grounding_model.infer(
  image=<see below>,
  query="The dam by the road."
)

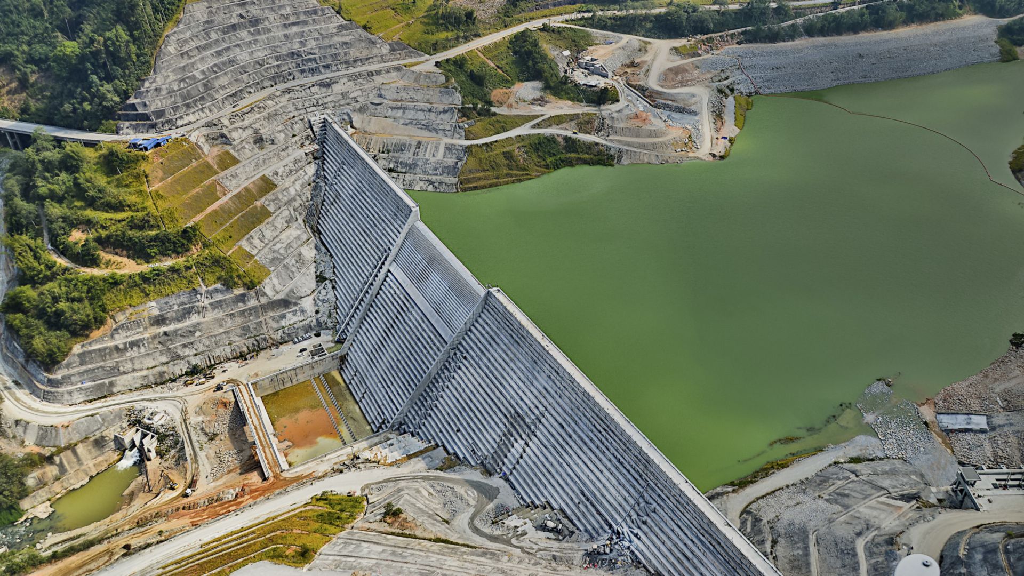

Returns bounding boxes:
[316,114,784,576]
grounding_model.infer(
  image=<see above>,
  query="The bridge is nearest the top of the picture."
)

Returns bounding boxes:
[0,119,125,190]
